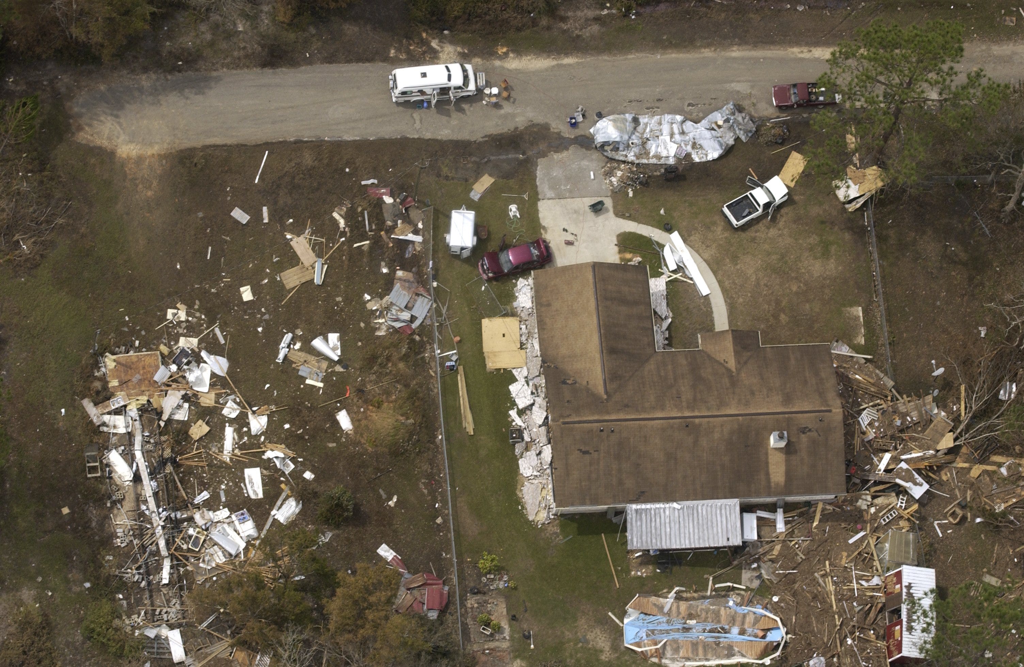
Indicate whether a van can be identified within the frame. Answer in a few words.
Yes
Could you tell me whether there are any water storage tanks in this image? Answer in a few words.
No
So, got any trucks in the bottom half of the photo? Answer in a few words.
No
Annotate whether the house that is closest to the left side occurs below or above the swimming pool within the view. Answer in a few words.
above it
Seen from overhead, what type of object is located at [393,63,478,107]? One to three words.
van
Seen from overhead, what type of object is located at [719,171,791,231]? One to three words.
truck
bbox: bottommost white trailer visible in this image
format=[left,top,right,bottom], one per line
[445,211,475,262]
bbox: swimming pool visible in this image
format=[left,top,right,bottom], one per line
[608,577,784,667]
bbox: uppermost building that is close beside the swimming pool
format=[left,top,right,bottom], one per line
[529,259,850,518]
